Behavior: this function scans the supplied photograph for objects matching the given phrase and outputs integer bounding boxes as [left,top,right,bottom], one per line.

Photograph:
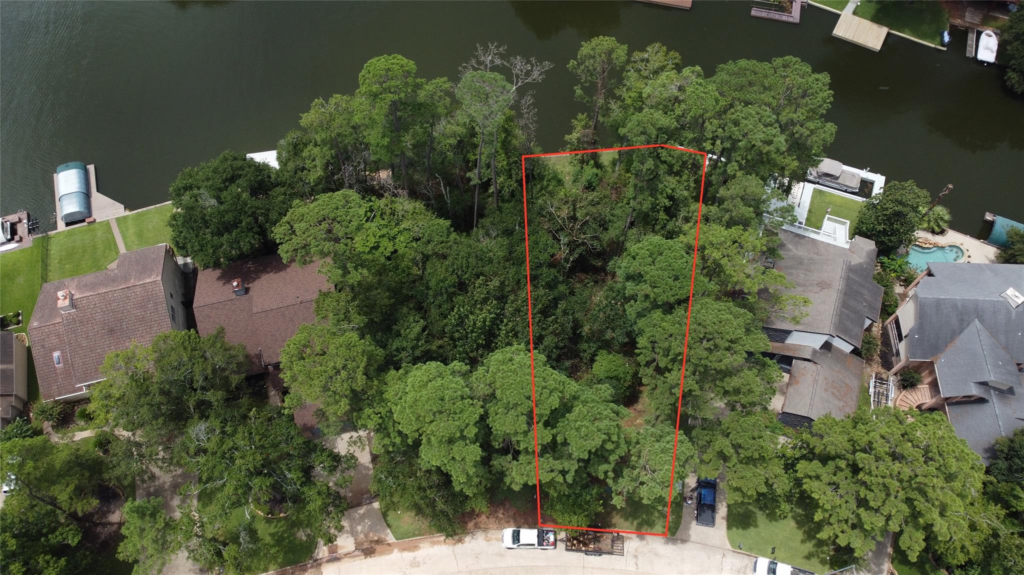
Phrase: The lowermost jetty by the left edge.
[0,210,33,255]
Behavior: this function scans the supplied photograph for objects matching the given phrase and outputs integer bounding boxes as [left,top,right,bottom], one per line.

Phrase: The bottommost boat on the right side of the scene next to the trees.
[807,155,862,193]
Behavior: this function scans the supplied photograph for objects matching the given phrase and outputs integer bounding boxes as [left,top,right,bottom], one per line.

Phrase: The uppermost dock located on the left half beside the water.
[54,164,127,230]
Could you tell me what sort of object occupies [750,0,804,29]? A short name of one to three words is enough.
pier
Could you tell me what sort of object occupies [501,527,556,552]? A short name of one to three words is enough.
truck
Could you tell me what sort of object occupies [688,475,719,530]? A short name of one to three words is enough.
truck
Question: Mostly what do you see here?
trees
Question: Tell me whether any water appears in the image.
Yes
